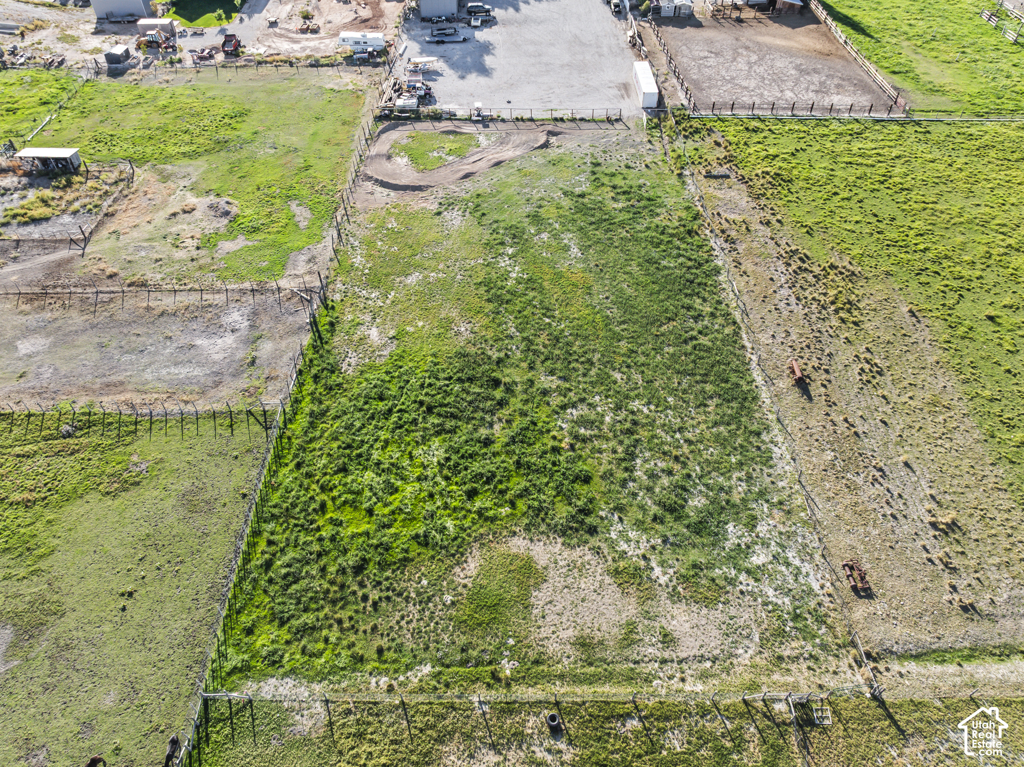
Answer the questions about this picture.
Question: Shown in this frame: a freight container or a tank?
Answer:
freight container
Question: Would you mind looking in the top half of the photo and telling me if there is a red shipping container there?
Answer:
No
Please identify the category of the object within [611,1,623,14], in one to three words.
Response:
vehicle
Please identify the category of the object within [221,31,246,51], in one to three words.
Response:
vehicle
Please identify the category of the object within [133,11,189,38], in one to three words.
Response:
shed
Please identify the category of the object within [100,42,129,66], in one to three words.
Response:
shed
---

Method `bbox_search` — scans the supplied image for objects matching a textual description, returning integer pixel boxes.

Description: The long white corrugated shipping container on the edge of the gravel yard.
[633,61,661,108]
